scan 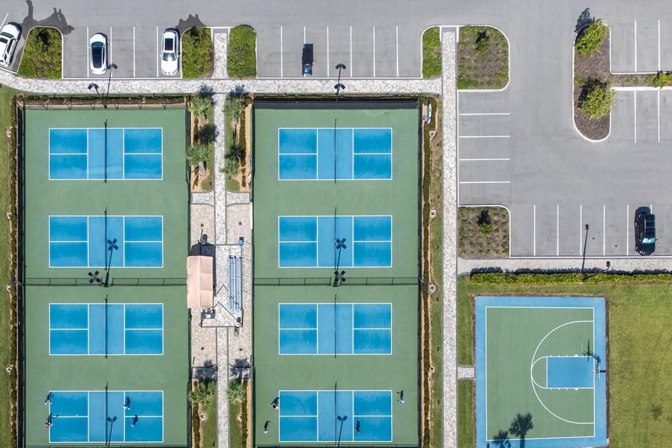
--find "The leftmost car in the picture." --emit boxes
[0,23,22,66]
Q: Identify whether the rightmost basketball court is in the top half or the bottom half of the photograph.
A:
bottom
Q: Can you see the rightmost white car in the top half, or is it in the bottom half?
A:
top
